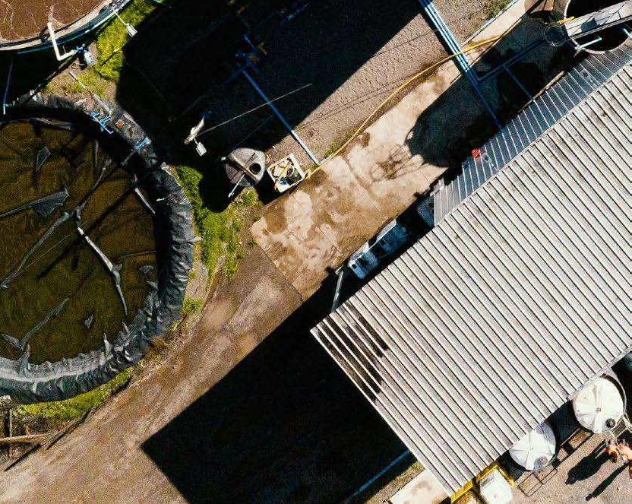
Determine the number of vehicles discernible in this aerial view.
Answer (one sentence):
There are 2 vehicles in the image.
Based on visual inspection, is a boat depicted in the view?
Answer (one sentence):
No, no boat is visible in the view.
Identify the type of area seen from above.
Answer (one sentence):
It's an industrial area.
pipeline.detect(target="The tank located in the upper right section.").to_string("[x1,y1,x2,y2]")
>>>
[543,0,632,55]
